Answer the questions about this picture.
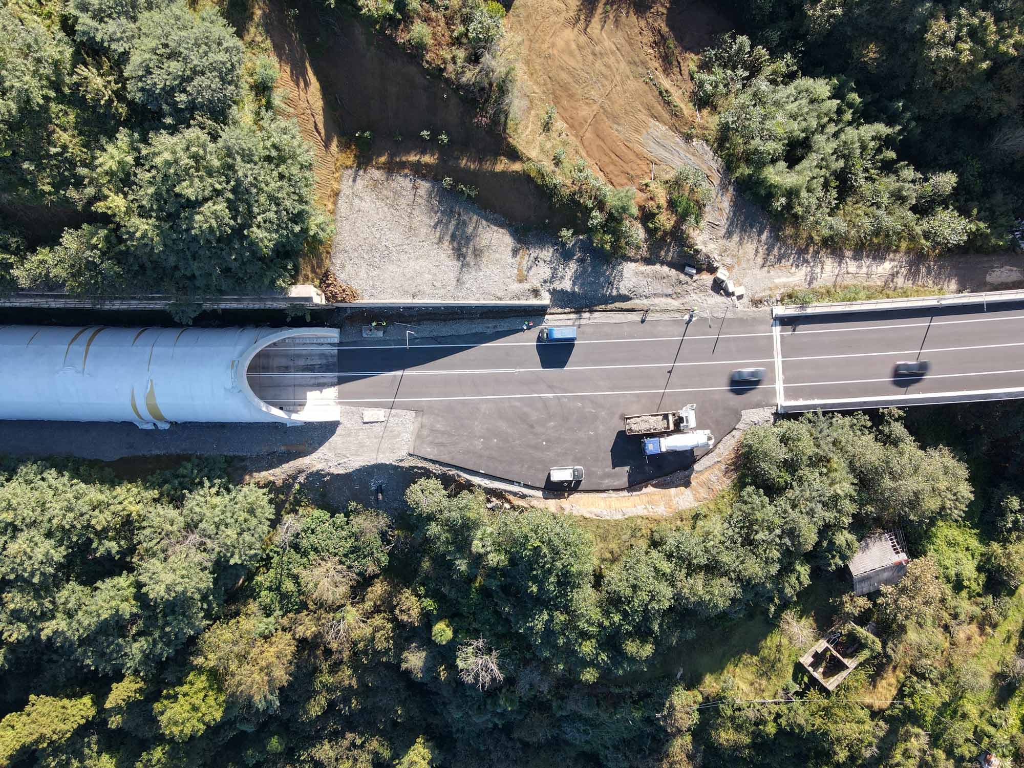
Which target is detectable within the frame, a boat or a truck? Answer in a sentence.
I can see a truck in this picture.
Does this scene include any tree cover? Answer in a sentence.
Yes, there is tree cover in the image.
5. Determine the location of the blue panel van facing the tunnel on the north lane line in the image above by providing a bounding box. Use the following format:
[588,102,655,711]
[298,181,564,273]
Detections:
[540,328,578,345]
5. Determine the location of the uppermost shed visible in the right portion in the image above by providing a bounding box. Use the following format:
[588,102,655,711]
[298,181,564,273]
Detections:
[838,521,911,594]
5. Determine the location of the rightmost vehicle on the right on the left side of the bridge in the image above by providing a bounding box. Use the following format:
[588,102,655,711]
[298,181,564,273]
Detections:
[731,367,763,383]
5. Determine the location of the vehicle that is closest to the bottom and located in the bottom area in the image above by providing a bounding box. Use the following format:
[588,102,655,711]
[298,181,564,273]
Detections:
[550,466,584,488]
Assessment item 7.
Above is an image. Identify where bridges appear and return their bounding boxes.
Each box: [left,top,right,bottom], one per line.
[767,289,1024,414]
